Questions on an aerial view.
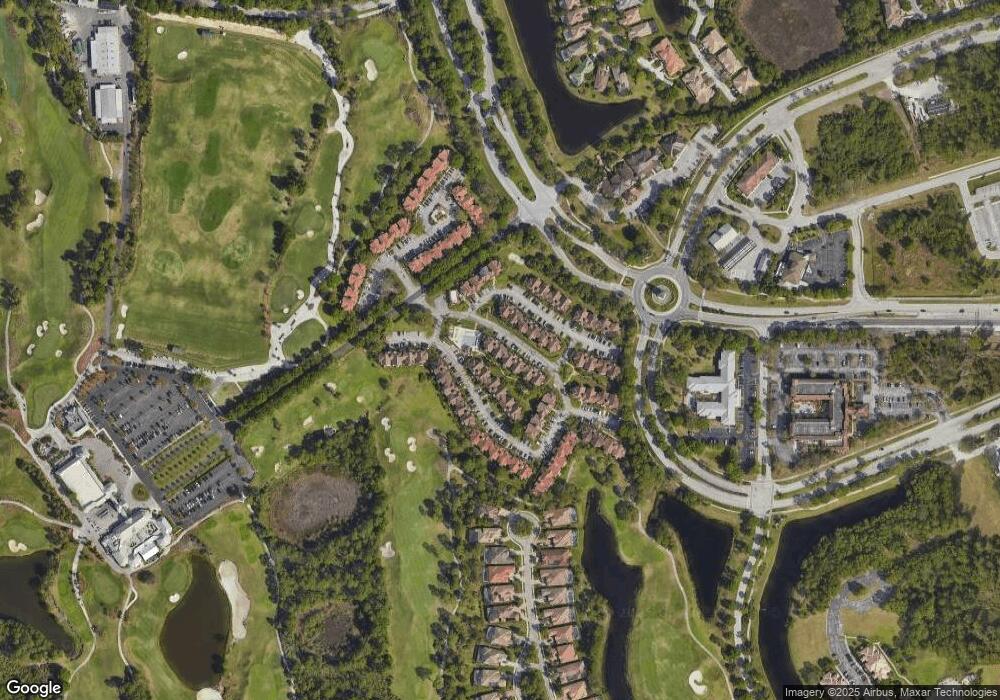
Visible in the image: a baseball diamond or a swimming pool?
swimming pool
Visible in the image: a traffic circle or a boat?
traffic circle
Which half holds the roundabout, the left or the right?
right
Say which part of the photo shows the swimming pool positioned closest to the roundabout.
center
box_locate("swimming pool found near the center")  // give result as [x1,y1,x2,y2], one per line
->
[454,326,479,350]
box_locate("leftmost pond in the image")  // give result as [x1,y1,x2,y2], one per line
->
[0,548,78,659]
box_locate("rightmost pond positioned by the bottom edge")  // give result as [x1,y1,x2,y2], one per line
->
[158,555,231,692]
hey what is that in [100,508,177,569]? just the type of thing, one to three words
building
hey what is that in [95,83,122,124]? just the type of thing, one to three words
shed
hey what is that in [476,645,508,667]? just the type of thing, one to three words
house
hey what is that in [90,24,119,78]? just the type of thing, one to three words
shed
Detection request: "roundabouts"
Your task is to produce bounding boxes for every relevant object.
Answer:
[633,266,690,323]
